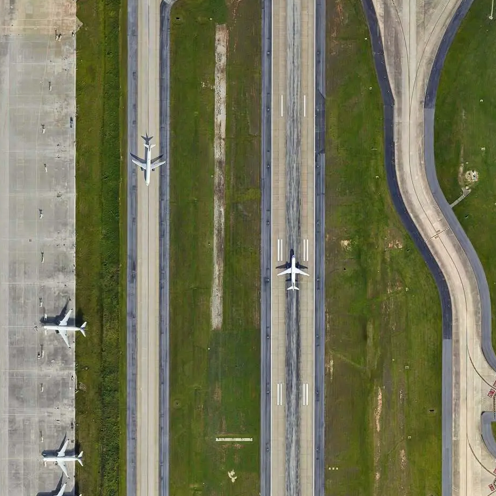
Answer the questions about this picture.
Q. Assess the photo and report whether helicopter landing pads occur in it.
No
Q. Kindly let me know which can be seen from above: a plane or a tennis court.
plane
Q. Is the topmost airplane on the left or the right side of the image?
left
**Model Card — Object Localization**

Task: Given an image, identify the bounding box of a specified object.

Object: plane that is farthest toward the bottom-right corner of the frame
[277,255,310,290]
